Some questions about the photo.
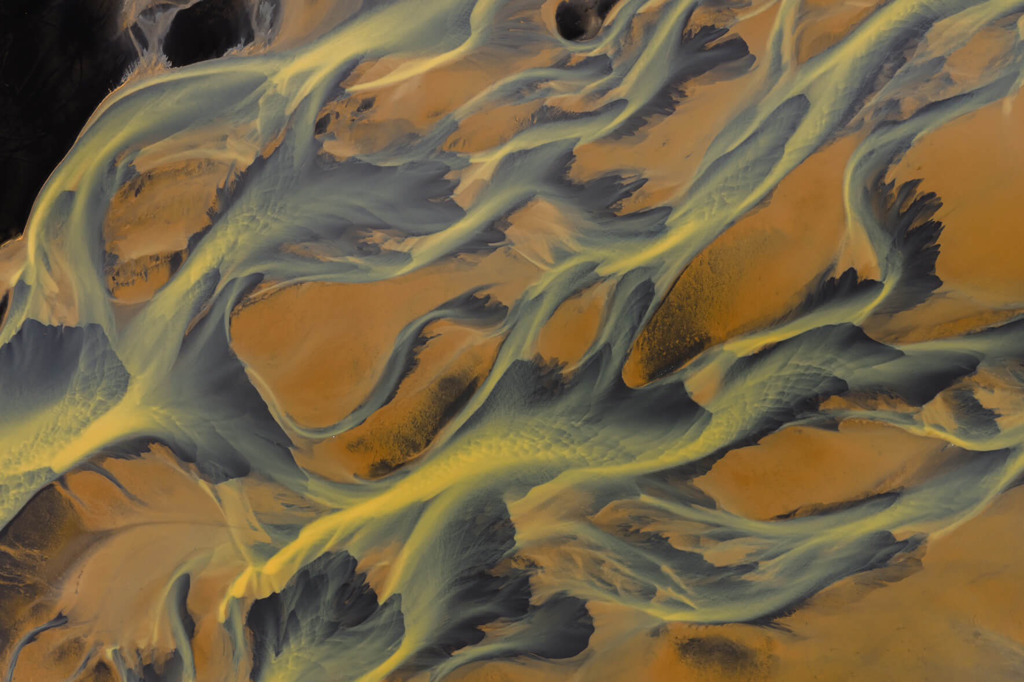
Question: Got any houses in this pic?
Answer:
No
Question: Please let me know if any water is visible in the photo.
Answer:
Yes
